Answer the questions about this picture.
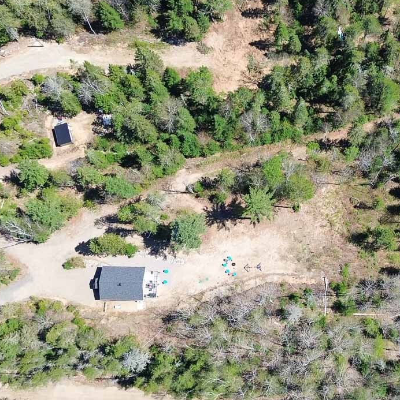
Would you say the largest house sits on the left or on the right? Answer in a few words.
left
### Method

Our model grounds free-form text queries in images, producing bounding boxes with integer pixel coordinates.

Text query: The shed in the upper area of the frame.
[55,124,75,151]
